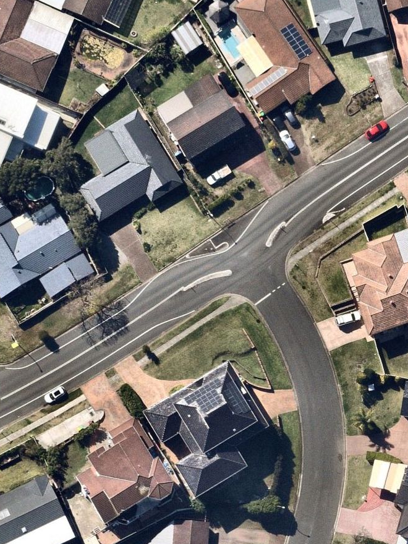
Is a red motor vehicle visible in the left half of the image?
No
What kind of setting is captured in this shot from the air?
residential area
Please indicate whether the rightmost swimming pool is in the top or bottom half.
top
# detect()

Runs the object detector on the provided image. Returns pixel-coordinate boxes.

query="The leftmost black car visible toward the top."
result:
[219,72,238,96]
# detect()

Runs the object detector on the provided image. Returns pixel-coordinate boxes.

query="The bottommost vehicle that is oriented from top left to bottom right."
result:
[278,128,298,152]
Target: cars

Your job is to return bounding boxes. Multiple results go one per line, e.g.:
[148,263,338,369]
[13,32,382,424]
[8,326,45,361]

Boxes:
[278,128,298,152]
[44,385,68,404]
[269,106,289,130]
[283,104,300,130]
[364,122,388,139]
[219,72,238,96]
[335,313,362,325]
